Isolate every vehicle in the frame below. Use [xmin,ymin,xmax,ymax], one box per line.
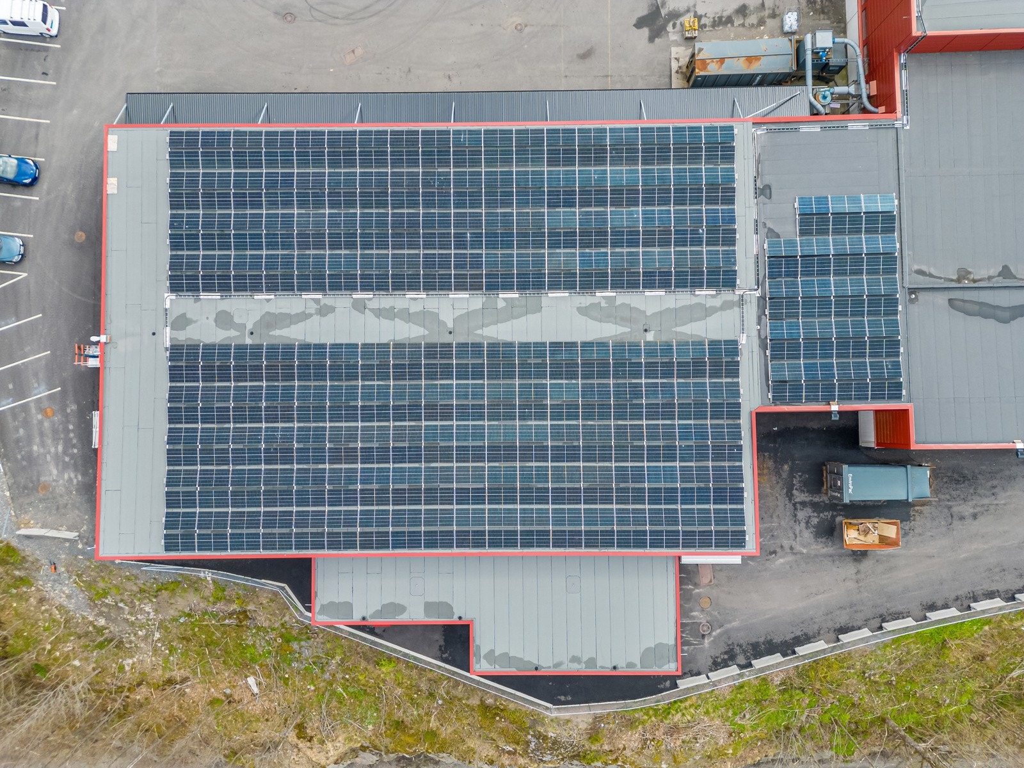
[0,234,27,265]
[0,150,43,187]
[0,0,64,41]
